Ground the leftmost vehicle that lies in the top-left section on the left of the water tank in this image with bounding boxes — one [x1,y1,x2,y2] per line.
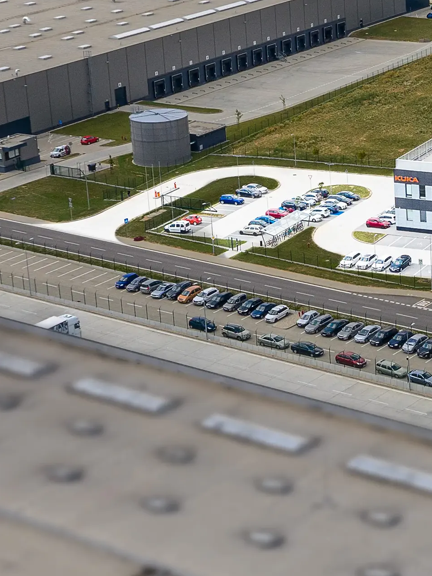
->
[47,142,73,159]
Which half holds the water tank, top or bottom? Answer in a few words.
top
